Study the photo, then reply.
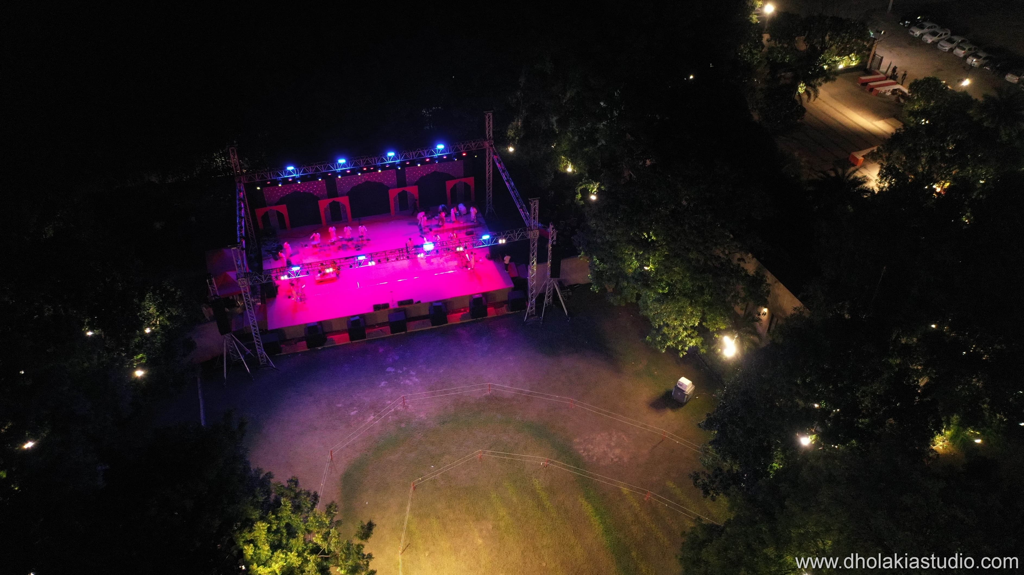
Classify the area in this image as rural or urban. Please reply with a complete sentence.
The land in this view is best described as rural.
